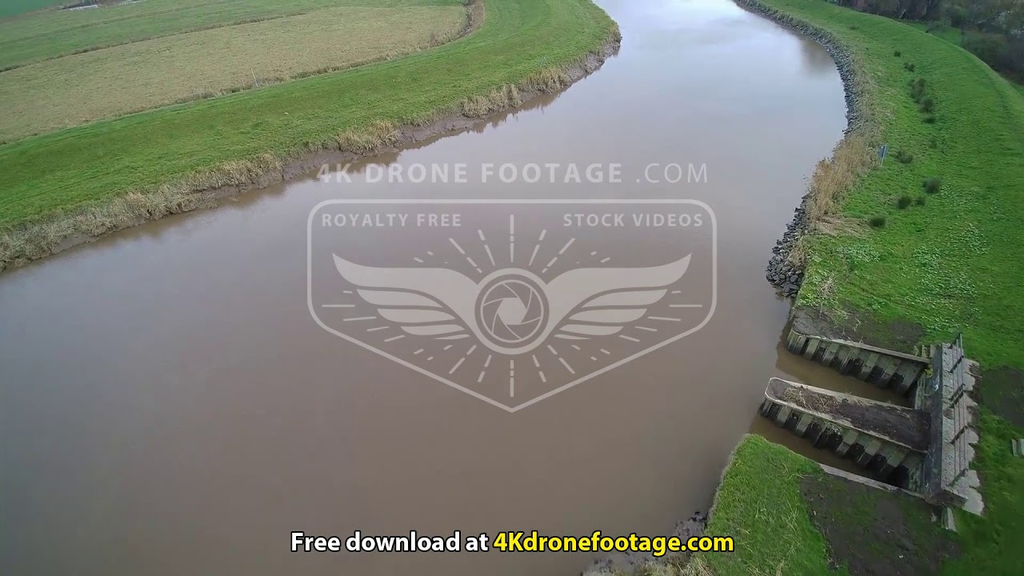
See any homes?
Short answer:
No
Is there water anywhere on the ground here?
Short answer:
Yes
